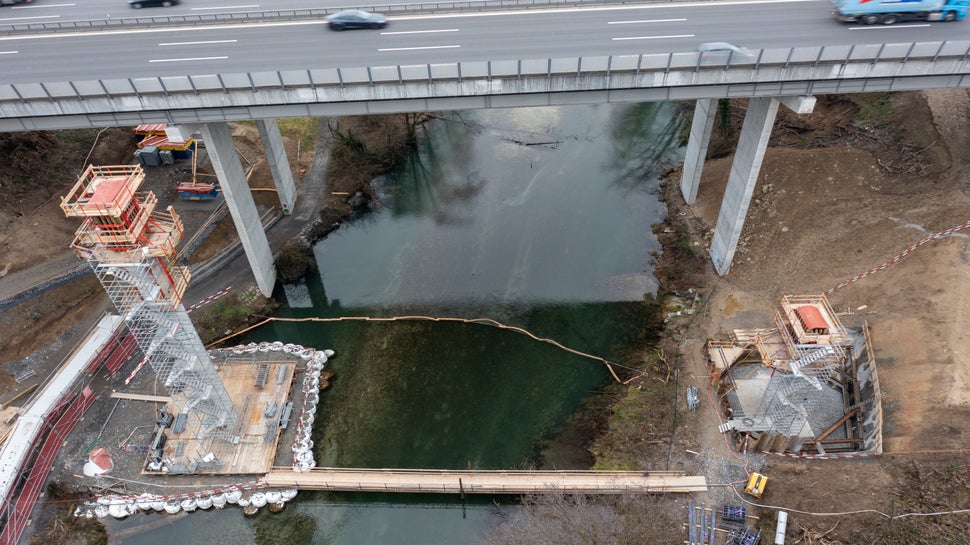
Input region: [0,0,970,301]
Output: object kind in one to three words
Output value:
bridge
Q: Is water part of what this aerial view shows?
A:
Yes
